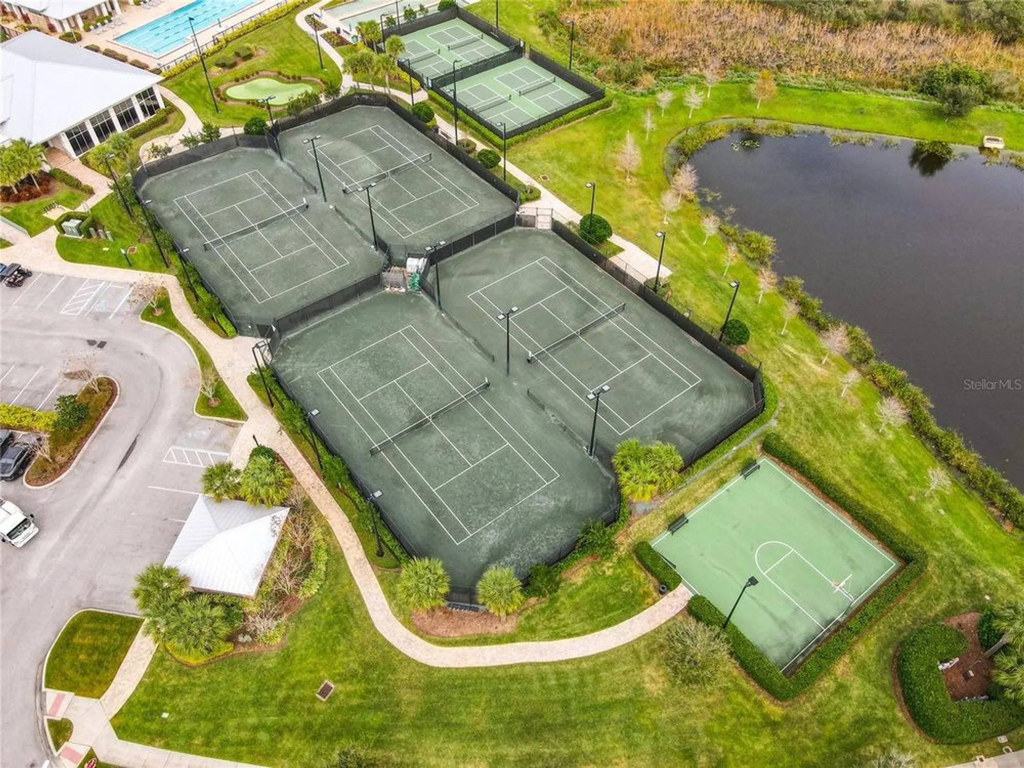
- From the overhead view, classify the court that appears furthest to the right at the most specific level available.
basketball court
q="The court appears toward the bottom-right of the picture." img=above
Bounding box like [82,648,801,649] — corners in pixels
[653,454,902,679]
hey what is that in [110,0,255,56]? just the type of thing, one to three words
swimming pool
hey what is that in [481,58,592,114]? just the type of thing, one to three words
sports court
